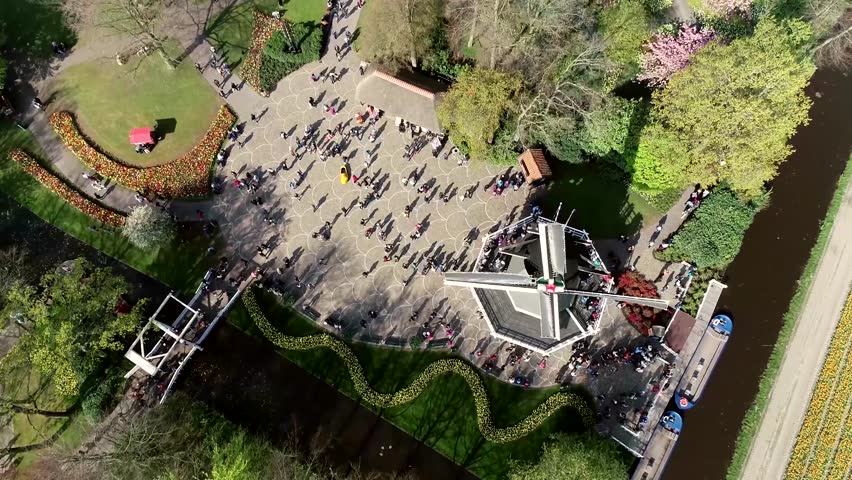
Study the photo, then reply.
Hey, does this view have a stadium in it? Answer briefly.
No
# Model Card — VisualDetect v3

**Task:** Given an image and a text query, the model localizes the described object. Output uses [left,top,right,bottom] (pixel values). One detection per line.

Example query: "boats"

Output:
[627,406,683,480]
[662,309,733,413]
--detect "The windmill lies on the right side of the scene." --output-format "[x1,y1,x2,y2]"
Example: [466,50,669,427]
[438,203,666,357]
